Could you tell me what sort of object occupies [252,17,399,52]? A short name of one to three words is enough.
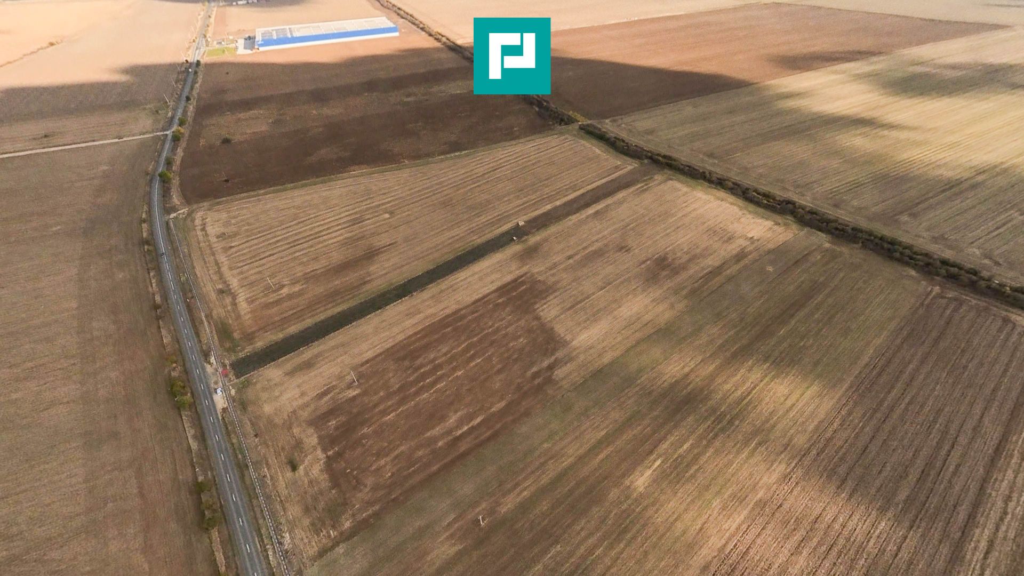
building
